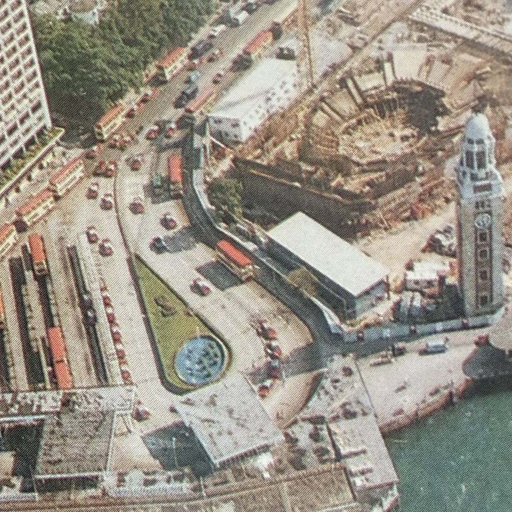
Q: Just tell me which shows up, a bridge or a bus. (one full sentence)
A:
Looking from above, you can make out a bus.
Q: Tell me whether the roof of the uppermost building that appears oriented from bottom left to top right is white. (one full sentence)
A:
Yes, the roof of the uppermost building that appears oriented from bottom left to top right appears white.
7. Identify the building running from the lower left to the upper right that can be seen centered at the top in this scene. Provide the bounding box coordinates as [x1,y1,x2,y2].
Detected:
[206,40,317,143]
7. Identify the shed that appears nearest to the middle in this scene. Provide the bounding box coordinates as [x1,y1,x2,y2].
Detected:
[267,211,389,310]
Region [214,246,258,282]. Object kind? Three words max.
bus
